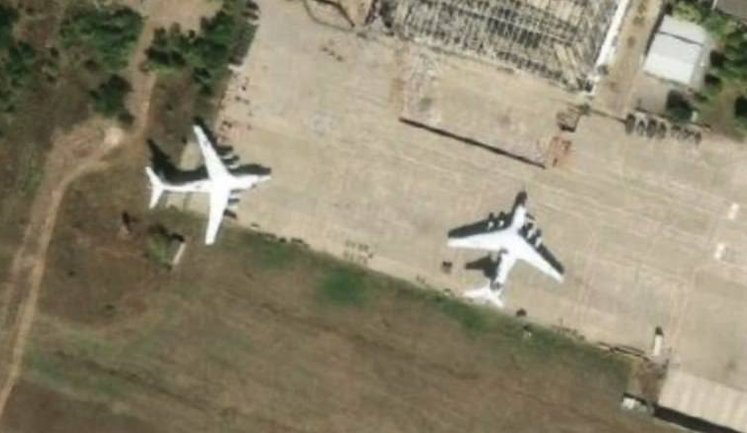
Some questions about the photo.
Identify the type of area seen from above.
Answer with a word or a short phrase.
airport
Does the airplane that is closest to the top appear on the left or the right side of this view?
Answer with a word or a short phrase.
left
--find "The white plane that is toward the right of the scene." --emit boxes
[445,197,562,308]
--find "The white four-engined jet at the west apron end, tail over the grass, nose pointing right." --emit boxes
[150,127,272,245]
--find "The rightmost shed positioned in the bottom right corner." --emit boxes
[656,370,747,433]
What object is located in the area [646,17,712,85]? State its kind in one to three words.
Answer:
house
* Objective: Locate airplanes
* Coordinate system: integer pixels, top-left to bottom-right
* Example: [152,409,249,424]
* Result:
[445,197,562,308]
[150,127,272,245]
